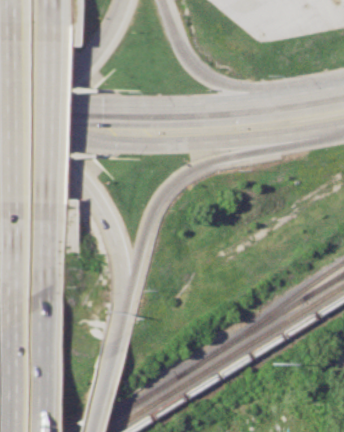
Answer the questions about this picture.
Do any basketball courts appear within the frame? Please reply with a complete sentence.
No, there's no basketball court here.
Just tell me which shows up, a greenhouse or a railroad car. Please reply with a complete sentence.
There is a railroad car in the scene.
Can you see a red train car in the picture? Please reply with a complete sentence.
No, I find no red train car anywhere in the image.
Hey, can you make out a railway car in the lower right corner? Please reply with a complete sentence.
Yes, you'll find a railway car in the lower right corner.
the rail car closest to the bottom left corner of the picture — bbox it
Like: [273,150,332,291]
[124,415,160,432]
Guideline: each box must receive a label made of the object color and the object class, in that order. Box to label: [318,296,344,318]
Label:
white rail car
